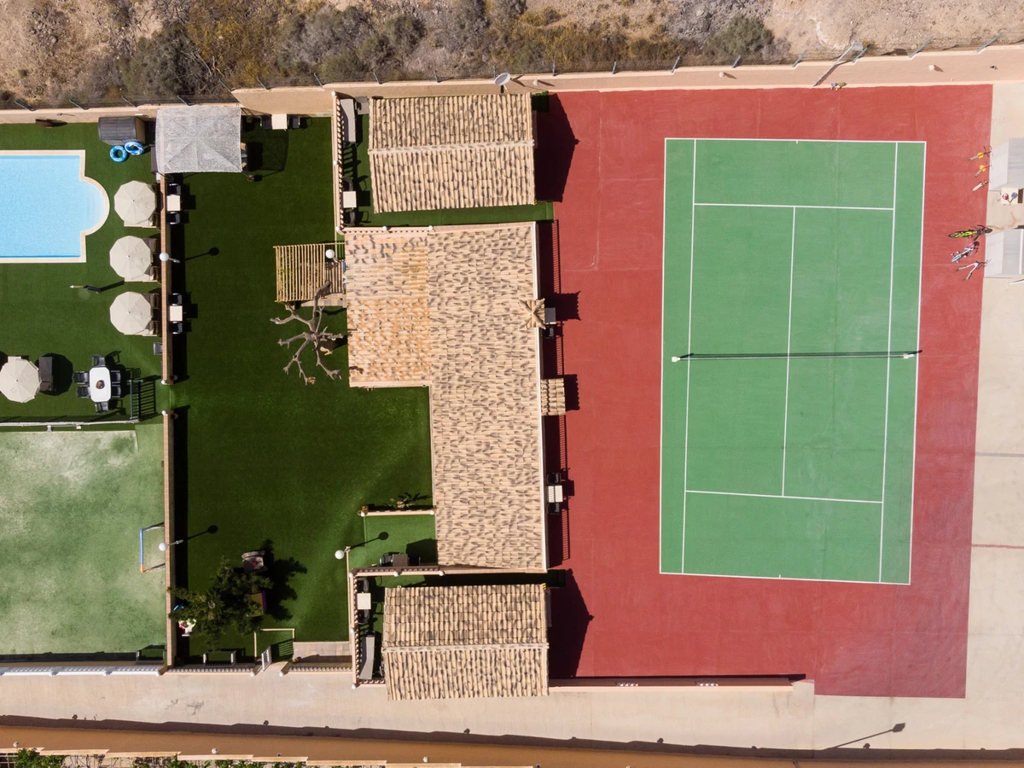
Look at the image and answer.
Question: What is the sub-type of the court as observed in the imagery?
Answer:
tennis court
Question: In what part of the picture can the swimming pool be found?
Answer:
top left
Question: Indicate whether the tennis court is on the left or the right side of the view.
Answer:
right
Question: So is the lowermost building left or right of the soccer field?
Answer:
on its right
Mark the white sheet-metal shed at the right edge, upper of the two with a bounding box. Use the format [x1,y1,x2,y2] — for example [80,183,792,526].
[991,140,1024,188]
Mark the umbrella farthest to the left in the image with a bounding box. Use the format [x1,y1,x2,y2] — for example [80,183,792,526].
[0,360,41,400]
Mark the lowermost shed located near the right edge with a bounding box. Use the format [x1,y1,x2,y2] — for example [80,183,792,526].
[986,232,1024,277]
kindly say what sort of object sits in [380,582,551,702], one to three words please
building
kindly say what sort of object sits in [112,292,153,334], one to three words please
umbrella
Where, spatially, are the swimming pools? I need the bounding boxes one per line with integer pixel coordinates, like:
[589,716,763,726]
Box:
[0,150,109,263]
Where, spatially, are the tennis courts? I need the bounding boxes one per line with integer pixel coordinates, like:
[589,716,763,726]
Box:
[512,90,992,699]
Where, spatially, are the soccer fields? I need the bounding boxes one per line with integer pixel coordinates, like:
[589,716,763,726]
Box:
[0,424,171,669]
